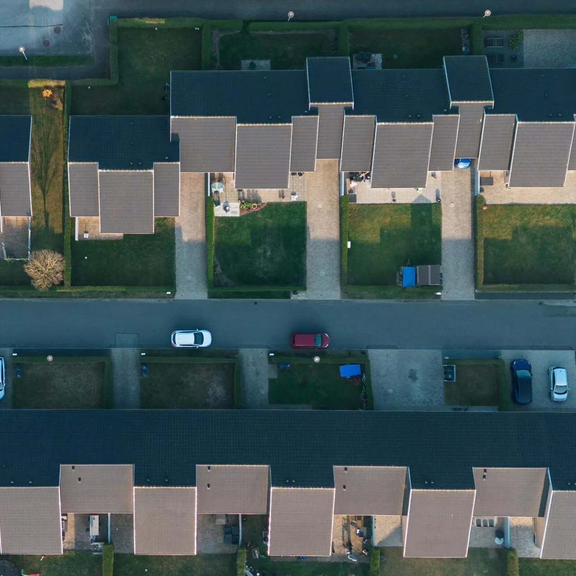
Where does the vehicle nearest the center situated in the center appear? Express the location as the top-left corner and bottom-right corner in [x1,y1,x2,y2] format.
[291,331,329,350]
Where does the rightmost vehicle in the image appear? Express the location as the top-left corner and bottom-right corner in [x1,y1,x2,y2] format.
[550,367,572,401]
